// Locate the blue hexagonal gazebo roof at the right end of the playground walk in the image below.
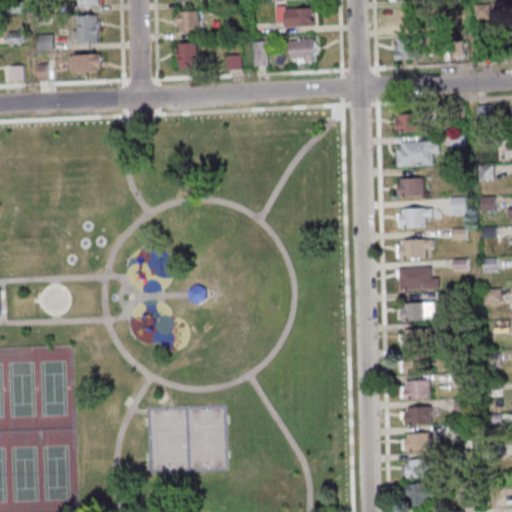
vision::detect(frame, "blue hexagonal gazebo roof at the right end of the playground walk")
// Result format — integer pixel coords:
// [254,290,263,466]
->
[188,284,207,305]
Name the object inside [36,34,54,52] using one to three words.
building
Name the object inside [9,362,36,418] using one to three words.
tennis court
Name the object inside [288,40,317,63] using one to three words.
house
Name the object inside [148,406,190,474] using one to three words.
basketball court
